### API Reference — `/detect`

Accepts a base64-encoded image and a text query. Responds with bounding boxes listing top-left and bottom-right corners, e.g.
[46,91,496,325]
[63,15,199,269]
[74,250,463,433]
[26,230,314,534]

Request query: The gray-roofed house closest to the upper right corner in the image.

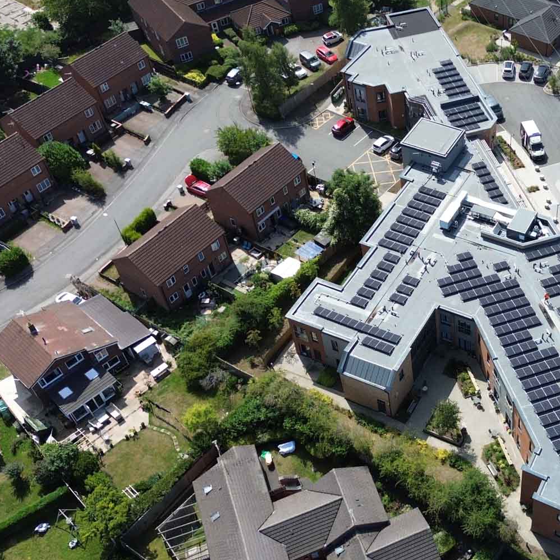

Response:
[469,0,560,56]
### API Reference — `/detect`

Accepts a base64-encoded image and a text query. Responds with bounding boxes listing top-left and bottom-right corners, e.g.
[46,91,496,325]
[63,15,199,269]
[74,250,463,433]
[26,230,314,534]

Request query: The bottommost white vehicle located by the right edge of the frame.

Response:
[523,119,547,158]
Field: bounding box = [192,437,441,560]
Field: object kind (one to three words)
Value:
house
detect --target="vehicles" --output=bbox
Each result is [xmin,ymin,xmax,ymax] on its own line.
[523,119,547,158]
[320,30,346,46]
[296,64,307,77]
[370,135,397,154]
[48,291,91,310]
[180,171,212,194]
[486,95,504,118]
[520,59,533,79]
[331,117,357,135]
[299,49,321,68]
[503,59,515,79]
[535,64,550,82]
[222,68,241,83]
[385,140,402,159]
[316,47,338,62]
